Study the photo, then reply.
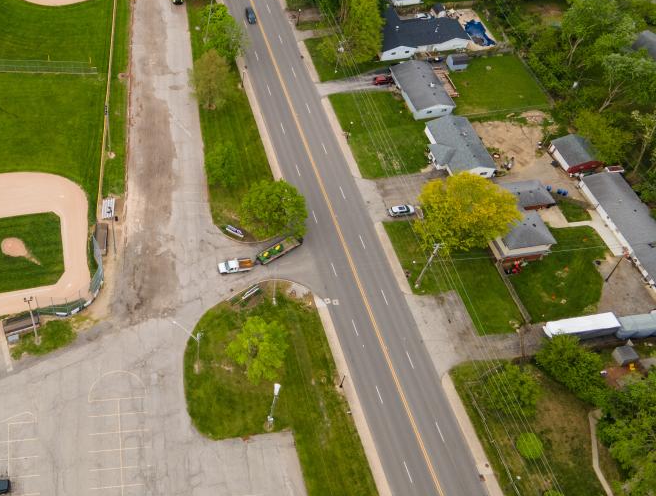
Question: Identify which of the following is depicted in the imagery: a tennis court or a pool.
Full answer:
I can see a pool in this picture.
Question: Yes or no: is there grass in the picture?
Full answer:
Yes, grass can be seen from above here.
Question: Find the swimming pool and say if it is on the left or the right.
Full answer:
The swimming pool appears in the right half of the scene.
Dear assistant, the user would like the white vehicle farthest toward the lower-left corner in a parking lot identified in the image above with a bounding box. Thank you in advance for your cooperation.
[219,260,250,274]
